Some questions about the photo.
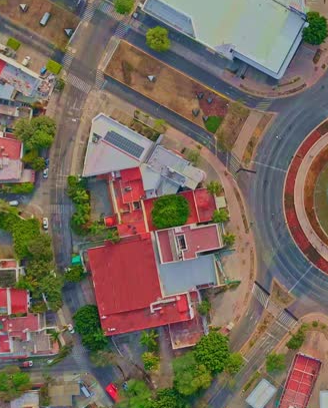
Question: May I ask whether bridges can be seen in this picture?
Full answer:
No, no bridge can be seen from above.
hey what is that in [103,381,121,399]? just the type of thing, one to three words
vehicle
